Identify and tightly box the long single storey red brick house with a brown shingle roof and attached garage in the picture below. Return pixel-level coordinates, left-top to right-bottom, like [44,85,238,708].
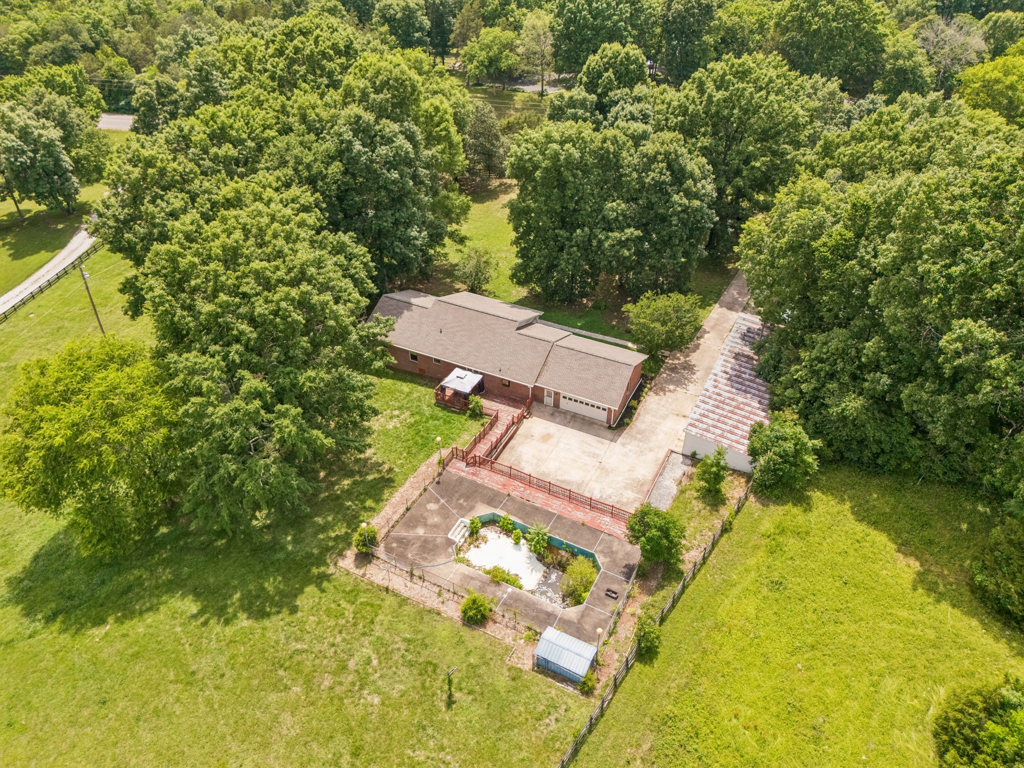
[357,293,648,424]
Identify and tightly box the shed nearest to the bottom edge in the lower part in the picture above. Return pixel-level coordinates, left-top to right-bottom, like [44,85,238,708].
[533,624,599,686]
